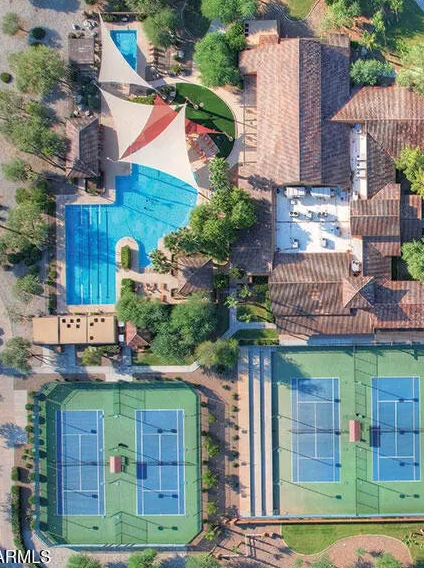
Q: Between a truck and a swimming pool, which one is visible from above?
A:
swimming pool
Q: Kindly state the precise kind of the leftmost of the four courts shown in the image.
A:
tennis court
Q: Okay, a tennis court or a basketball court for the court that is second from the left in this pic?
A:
tennis court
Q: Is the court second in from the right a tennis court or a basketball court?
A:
tennis court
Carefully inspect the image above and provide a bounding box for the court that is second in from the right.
[273,346,356,518]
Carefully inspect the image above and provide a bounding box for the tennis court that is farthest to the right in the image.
[356,345,424,518]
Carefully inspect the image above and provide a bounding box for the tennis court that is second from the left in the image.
[120,382,202,545]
